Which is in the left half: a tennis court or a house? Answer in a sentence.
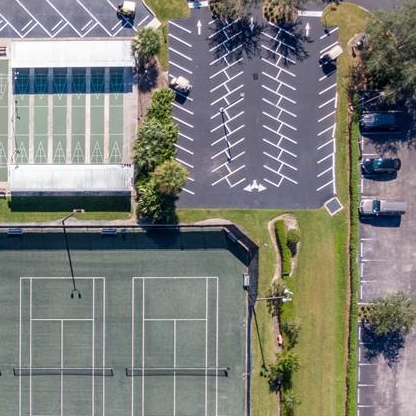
There is a tennis court in the left half.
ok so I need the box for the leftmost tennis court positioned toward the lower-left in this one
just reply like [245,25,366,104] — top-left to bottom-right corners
[20,276,105,416]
